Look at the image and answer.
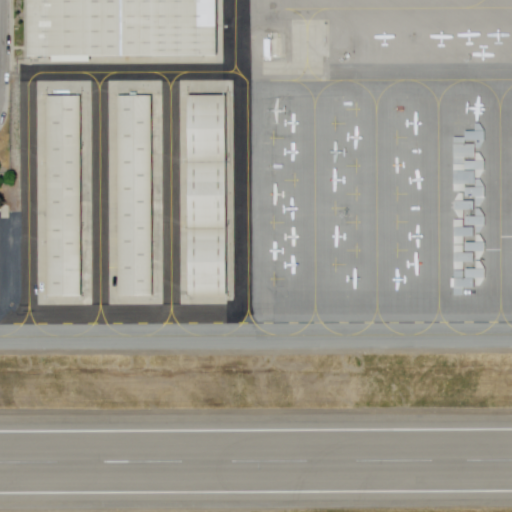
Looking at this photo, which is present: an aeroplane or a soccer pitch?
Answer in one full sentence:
There is an aeroplane in the scene.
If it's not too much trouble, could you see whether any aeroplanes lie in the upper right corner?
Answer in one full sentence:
Yes, an aeroplane appears in the upper right corner.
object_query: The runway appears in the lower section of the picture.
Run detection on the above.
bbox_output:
[0,414,512,504]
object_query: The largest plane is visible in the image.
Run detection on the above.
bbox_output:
[466,96,485,122]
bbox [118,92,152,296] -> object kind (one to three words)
hangar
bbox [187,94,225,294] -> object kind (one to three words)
hangar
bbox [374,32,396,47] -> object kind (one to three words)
airplane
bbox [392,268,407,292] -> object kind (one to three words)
airplane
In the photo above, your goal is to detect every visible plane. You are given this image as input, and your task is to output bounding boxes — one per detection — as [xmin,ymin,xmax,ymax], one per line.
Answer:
[472,45,495,60]
[282,196,298,220]
[330,168,346,192]
[268,98,286,124]
[346,266,362,289]
[346,126,362,150]
[284,255,299,275]
[374,32,396,47]
[270,182,284,206]
[284,112,300,133]
[392,268,407,292]
[406,252,423,276]
[466,96,485,122]
[392,156,406,174]
[330,140,346,163]
[284,227,300,247]
[458,30,482,46]
[409,169,424,190]
[408,224,424,248]
[430,31,454,48]
[284,142,299,162]
[270,240,284,260]
[406,111,422,136]
[488,29,510,44]
[332,225,346,248]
